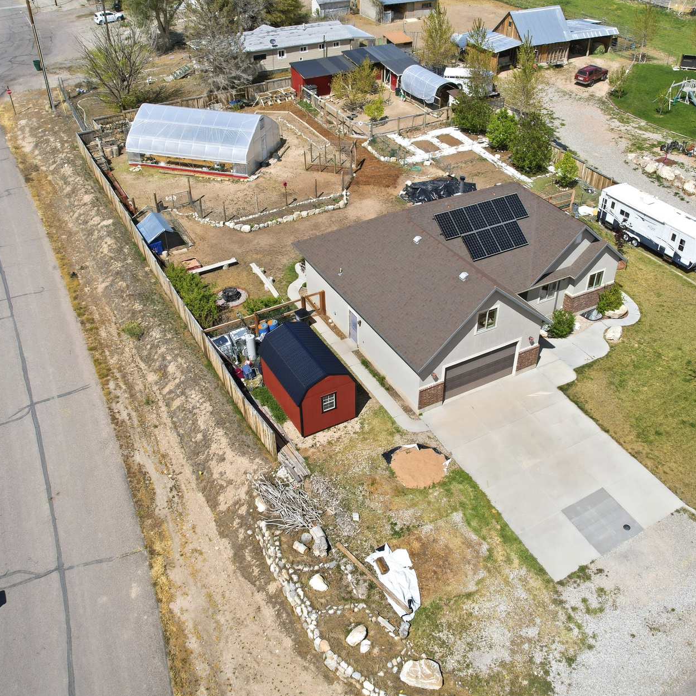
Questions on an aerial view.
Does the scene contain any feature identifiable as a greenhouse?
Yes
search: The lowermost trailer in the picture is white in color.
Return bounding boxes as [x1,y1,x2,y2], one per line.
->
[599,185,696,273]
